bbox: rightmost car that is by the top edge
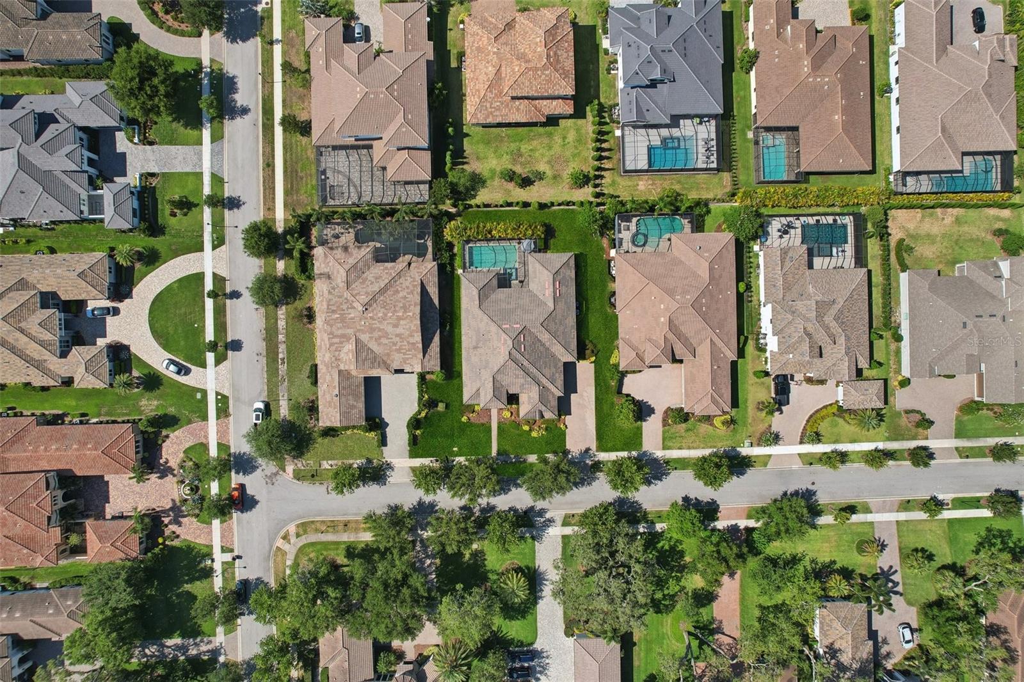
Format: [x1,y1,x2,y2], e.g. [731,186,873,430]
[973,5,988,31]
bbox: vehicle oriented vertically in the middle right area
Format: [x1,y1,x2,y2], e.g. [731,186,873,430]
[775,376,788,404]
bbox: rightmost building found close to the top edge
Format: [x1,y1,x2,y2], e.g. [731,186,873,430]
[890,0,1018,173]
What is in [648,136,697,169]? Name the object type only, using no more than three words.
swimming pool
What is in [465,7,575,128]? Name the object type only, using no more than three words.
house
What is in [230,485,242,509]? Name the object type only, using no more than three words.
vehicle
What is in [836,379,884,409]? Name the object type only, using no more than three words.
building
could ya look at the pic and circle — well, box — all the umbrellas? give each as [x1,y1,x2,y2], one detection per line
[757,232,769,244]
[520,237,536,253]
